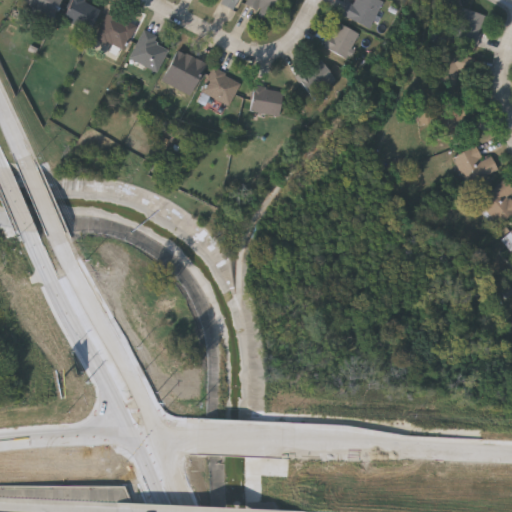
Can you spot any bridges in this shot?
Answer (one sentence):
Yes, I can see a bridge in this picture.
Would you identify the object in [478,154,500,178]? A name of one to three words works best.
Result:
house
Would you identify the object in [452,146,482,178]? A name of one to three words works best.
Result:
house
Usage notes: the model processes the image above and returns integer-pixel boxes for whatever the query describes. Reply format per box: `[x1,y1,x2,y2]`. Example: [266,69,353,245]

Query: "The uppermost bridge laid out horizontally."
[192,418,266,456]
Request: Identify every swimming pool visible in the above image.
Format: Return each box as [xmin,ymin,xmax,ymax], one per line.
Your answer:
[377,22,388,34]
[361,36,372,47]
